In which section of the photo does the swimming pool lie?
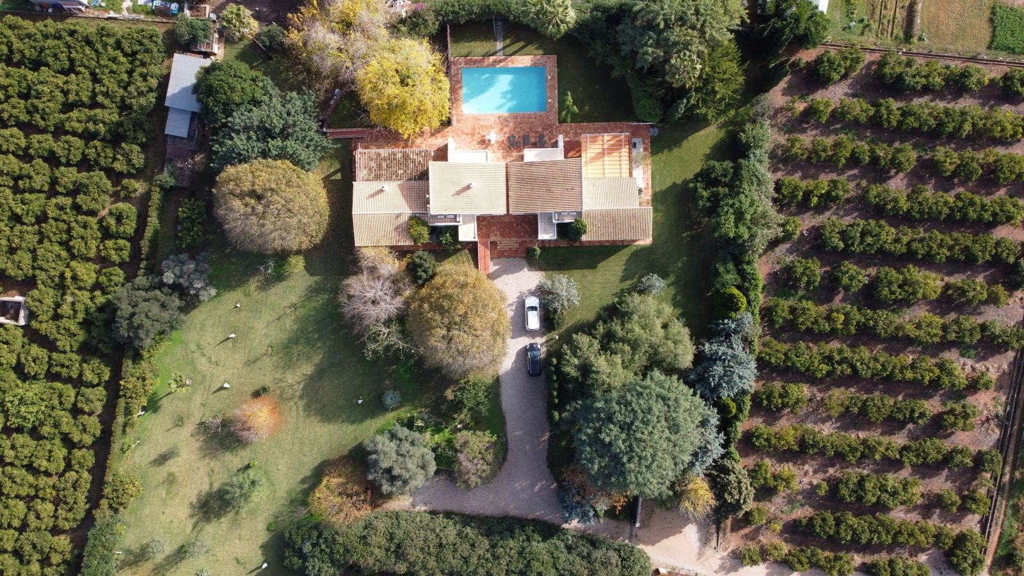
top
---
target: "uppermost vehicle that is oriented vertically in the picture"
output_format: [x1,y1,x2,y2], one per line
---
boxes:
[524,296,541,331]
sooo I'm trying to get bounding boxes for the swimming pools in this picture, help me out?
[460,63,550,116]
